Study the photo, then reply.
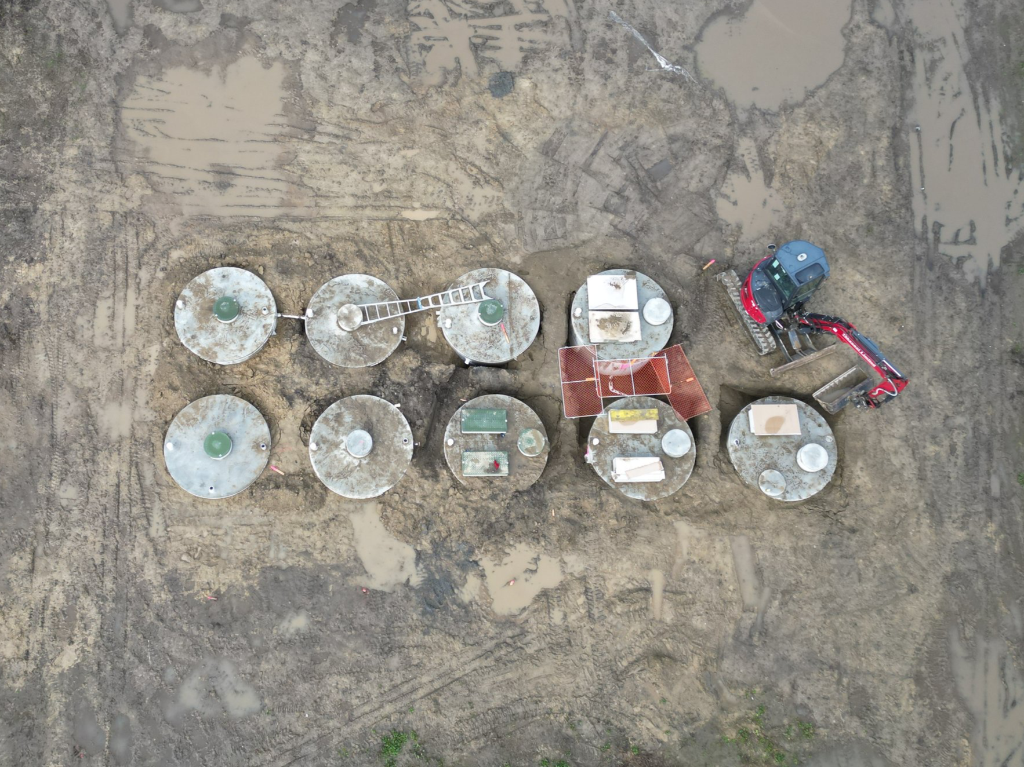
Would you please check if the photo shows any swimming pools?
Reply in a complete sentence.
No, the frame has no swimming pool in it.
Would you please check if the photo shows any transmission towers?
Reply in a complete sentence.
No, I find no transmission tower anywhere in the image.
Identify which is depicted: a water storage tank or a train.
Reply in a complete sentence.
Visible in the photo is a water storage tank.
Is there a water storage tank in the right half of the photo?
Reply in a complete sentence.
Yes, you'll find a water storage tank in the right half of the photo.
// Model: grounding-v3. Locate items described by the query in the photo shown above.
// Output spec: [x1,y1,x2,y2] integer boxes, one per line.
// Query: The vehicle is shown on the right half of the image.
[714,240,913,417]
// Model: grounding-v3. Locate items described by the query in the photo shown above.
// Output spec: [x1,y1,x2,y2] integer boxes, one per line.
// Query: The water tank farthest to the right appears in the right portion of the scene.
[718,395,837,504]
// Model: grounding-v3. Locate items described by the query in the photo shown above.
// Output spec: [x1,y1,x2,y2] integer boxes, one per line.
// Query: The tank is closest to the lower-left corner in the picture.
[164,394,273,500]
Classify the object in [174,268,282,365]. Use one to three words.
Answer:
water tank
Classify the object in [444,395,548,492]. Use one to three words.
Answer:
water tank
